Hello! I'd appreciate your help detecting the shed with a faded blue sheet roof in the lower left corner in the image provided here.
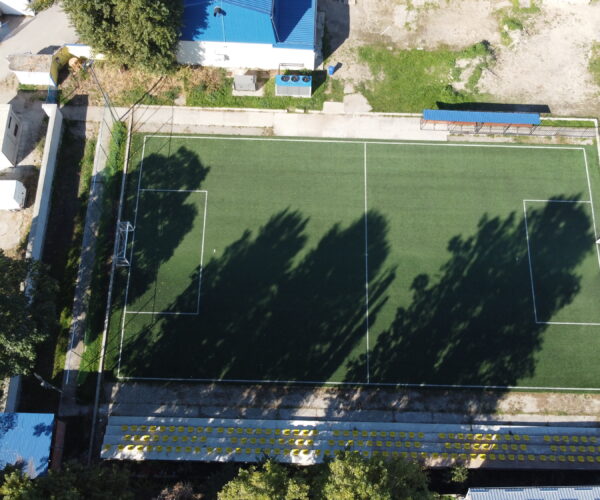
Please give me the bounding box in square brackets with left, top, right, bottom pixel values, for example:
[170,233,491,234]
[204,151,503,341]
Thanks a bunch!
[0,411,67,477]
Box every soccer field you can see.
[102,133,600,397]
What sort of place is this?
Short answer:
sports ground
